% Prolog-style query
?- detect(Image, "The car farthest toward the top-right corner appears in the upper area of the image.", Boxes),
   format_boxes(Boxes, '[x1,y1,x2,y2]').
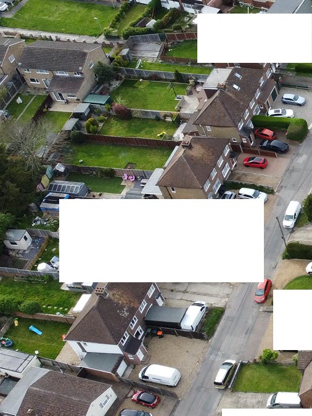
[282,94,306,106]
